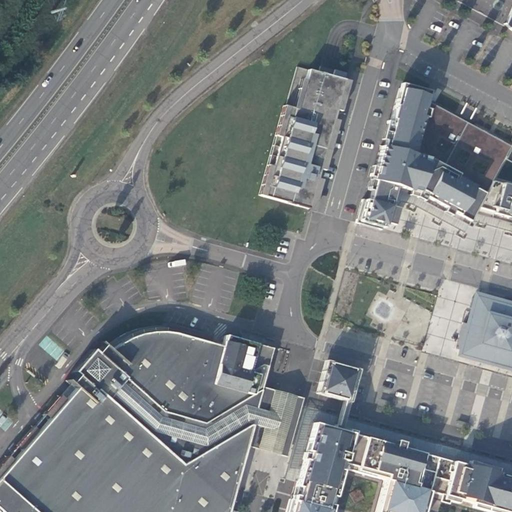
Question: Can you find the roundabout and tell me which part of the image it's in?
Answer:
left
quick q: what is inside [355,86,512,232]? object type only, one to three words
building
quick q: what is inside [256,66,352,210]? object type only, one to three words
building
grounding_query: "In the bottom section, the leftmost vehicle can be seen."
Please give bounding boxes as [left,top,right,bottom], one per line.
[55,350,70,367]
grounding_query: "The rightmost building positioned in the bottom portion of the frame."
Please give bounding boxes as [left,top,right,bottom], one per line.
[460,290,512,371]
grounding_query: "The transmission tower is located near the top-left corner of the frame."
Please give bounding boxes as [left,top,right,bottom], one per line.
[52,9,68,28]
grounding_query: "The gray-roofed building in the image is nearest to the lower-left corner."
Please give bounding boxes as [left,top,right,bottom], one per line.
[0,324,306,512]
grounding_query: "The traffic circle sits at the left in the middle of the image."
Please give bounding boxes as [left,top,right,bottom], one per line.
[70,181,159,270]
